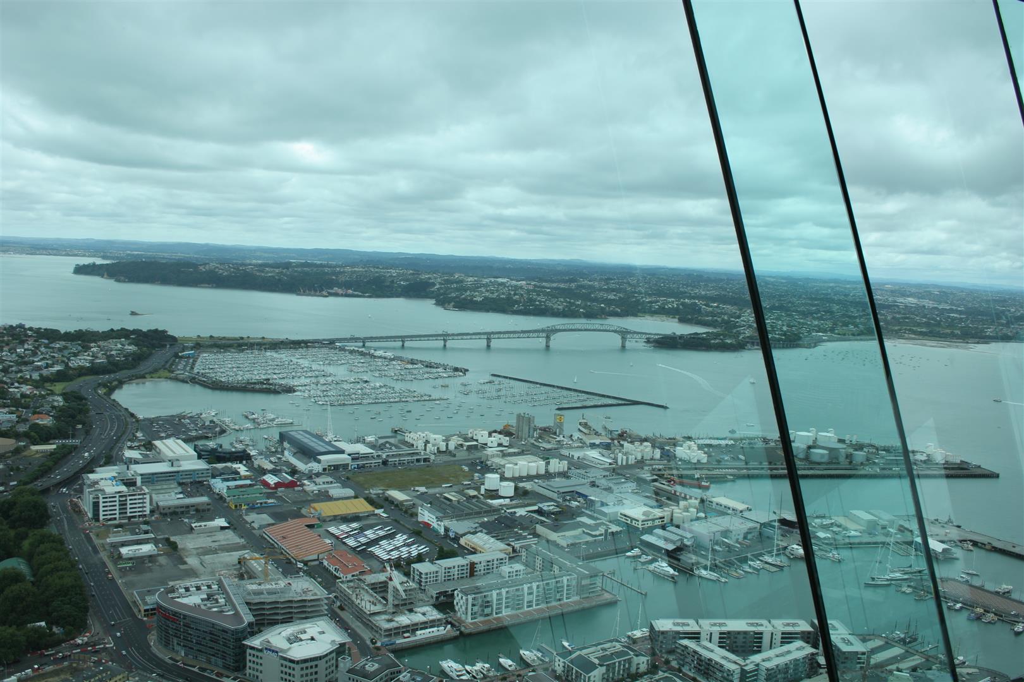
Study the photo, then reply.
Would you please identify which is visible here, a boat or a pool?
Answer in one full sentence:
The image shows a boat.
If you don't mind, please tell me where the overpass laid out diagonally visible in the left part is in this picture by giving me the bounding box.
[6,429,124,513]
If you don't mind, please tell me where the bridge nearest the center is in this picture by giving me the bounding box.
[296,322,730,348]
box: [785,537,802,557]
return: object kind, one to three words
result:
boat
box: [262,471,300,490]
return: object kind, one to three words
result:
barn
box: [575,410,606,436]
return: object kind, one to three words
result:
ship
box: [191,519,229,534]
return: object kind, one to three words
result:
building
